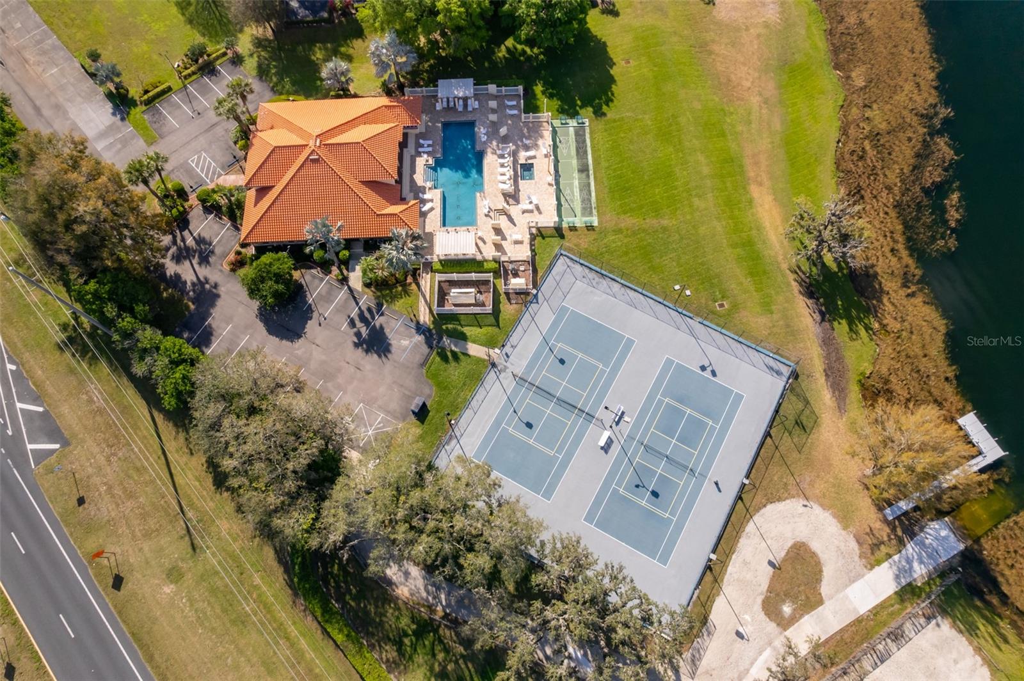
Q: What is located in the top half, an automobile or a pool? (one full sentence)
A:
Visible in the top half is a pool.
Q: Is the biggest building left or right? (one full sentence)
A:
The biggest building sits on the left side.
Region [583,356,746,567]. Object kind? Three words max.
tennis court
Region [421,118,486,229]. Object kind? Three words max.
swimming pool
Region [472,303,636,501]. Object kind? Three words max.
tennis court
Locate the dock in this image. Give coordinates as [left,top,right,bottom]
[883,408,1015,521]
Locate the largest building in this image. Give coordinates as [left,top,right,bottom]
[240,94,433,249]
